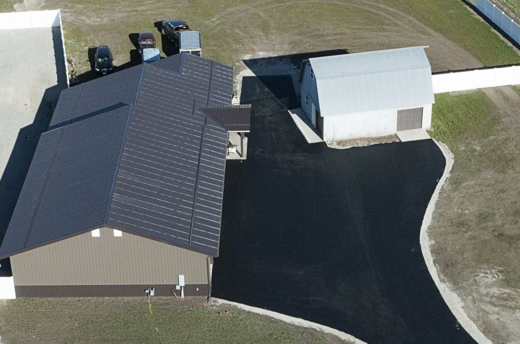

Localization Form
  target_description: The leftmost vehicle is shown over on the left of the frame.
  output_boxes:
[89,40,114,73]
